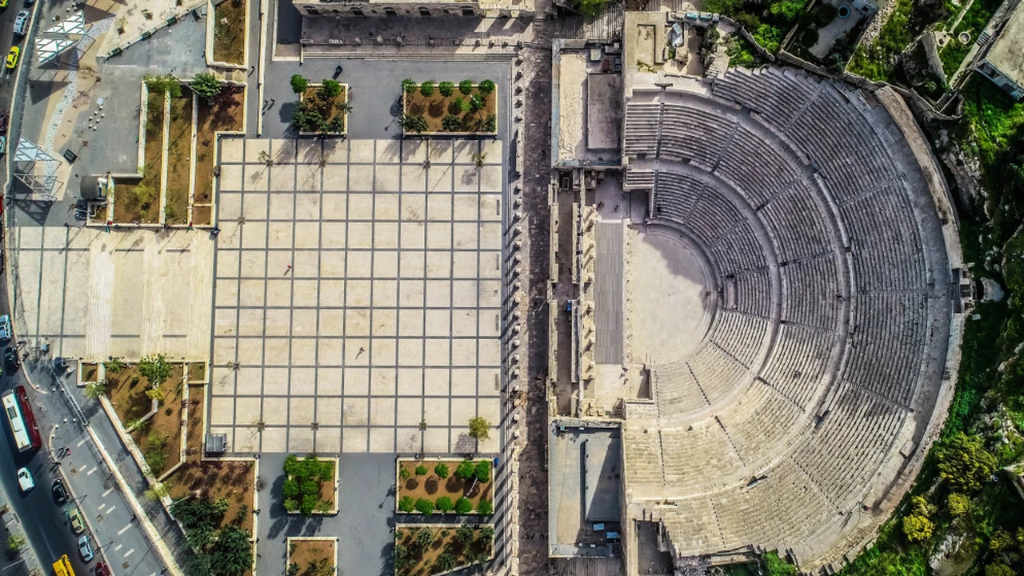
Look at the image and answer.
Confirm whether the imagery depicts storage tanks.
No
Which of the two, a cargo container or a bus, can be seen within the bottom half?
bus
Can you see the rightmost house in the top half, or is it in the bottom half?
top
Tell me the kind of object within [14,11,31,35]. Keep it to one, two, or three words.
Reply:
car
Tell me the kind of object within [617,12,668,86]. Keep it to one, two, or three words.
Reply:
building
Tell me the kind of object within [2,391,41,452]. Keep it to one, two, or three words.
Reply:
bus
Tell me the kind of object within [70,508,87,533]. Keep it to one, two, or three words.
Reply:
car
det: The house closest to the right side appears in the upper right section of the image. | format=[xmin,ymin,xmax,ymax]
[962,1,1024,107]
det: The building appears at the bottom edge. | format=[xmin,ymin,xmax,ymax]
[547,417,621,556]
